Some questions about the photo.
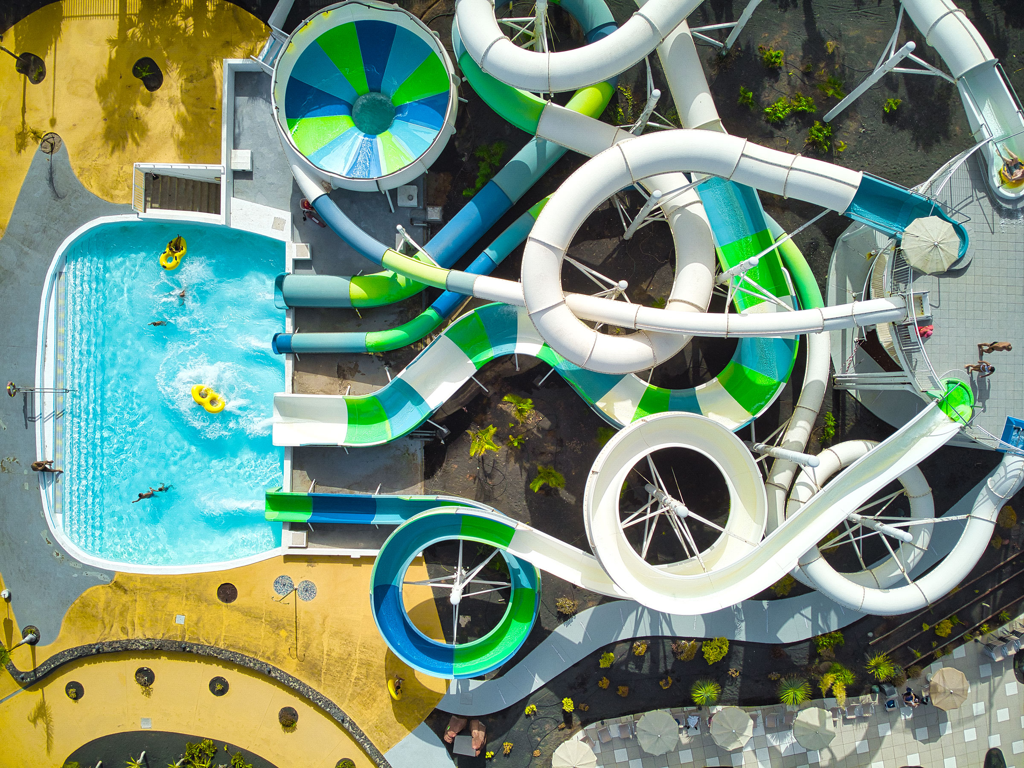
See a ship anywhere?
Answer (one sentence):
No, there isn't any ship down there.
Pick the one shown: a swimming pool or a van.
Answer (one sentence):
It is a swimming pool that can be seen here.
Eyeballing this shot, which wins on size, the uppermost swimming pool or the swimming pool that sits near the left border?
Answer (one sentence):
Compared with the uppermost swimming pool, the swimming pool that sits near the left border is the bigger one.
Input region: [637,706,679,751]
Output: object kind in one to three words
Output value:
umbrella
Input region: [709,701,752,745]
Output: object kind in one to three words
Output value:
umbrella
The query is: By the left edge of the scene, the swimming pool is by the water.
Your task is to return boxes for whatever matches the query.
[34,213,286,575]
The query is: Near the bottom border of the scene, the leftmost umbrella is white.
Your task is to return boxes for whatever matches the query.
[552,735,595,768]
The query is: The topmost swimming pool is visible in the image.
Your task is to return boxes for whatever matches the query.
[356,94,397,135]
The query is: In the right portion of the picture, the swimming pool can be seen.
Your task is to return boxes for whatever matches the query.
[982,413,1024,456]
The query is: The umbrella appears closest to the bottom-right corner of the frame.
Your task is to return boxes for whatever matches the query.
[922,664,965,707]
